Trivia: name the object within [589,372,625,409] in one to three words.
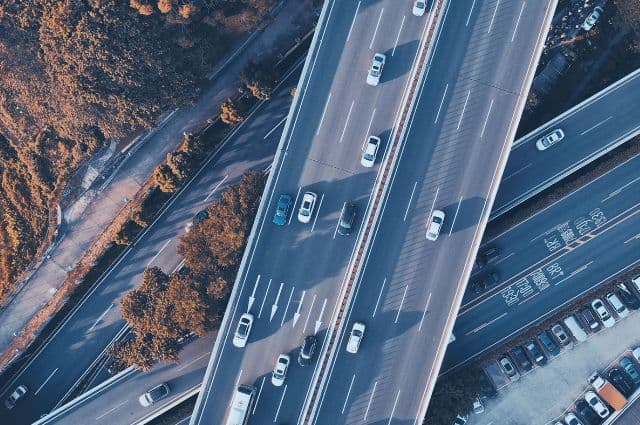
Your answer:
truck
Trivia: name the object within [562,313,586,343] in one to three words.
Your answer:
vehicle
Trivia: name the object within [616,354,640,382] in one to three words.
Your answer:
car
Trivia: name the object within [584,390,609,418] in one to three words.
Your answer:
car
